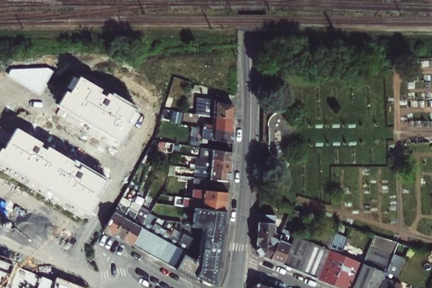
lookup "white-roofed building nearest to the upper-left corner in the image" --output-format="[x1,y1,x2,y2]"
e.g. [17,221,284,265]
[8,68,53,95]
